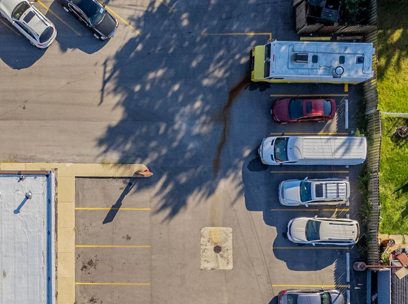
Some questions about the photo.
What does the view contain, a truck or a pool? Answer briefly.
truck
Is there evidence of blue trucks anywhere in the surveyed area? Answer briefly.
Yes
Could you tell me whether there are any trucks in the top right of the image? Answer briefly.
Yes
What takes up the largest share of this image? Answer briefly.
paved ground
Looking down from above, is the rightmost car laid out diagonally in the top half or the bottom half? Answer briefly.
top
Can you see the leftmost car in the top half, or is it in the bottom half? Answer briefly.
top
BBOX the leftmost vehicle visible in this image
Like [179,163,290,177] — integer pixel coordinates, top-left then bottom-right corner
[0,0,56,49]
